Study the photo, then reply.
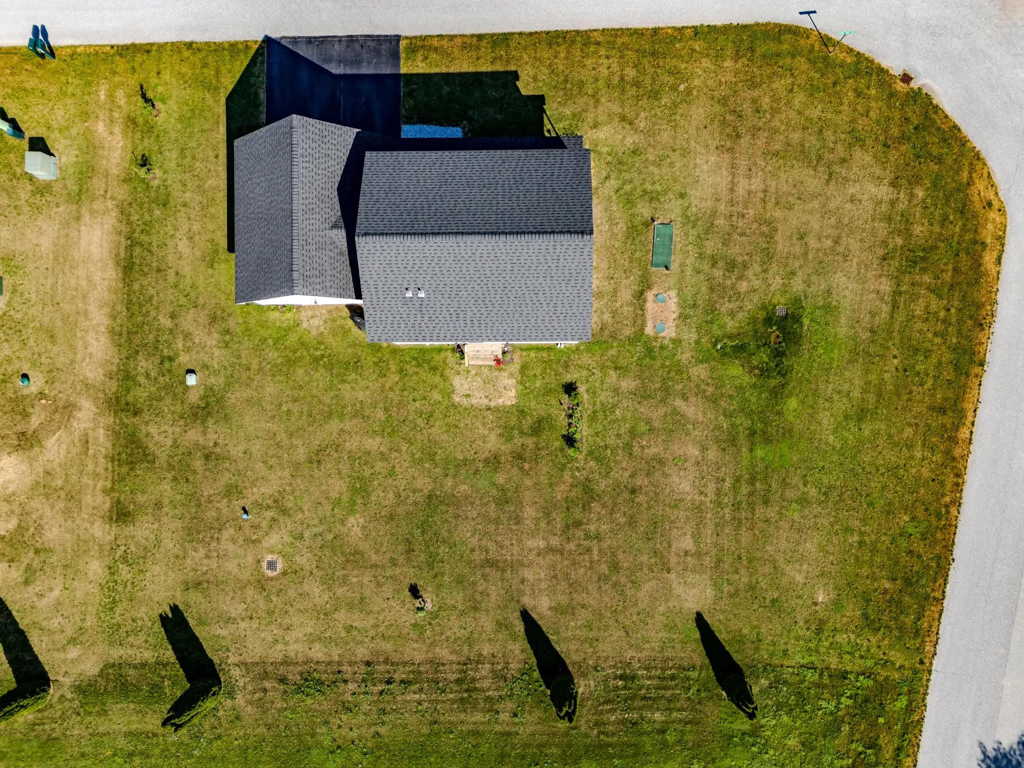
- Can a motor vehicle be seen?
No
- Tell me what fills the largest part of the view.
grass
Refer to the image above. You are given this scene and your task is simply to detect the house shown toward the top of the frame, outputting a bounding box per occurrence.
[233,114,596,350]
